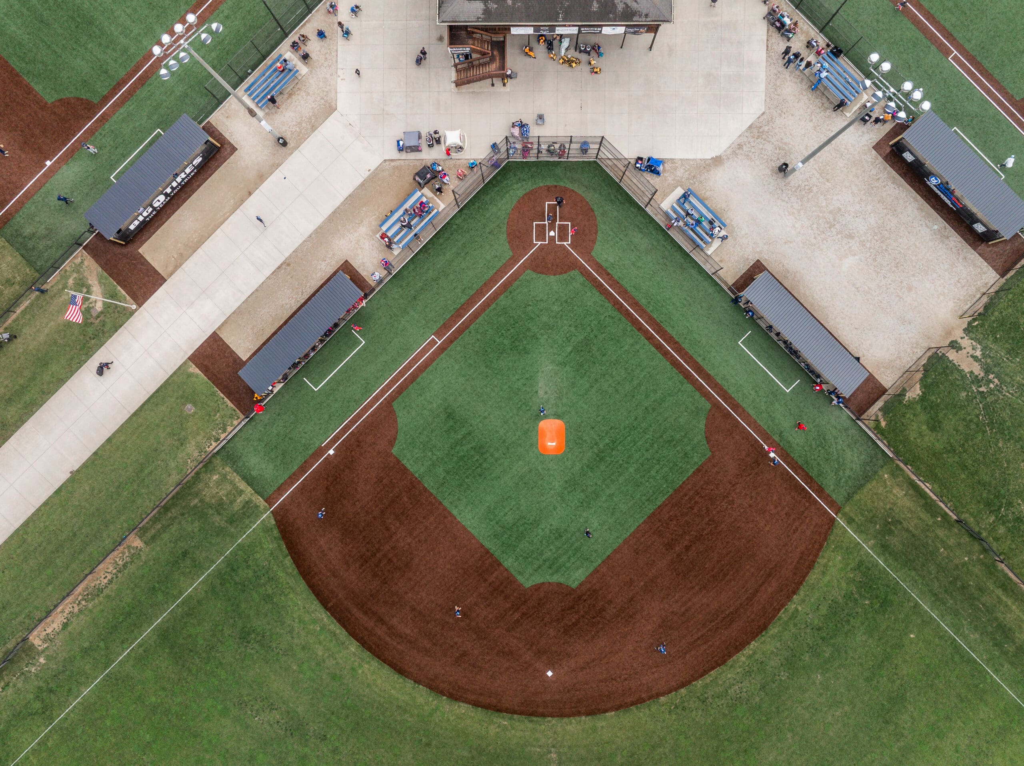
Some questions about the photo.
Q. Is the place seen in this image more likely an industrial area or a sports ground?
sports ground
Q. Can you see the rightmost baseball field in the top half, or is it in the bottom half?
top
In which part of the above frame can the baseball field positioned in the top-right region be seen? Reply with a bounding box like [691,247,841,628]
[789,0,1024,234]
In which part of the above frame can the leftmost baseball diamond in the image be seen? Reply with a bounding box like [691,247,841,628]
[0,0,321,280]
